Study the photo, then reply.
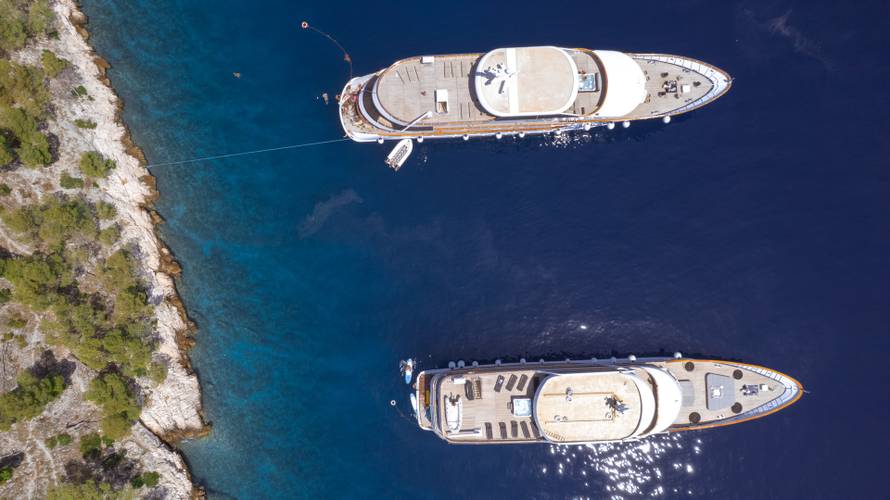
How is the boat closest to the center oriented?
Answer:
diagonally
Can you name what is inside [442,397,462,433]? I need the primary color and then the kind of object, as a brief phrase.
white boat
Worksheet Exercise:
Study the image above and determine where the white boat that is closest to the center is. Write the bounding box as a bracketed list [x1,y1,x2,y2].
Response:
[387,140,415,171]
